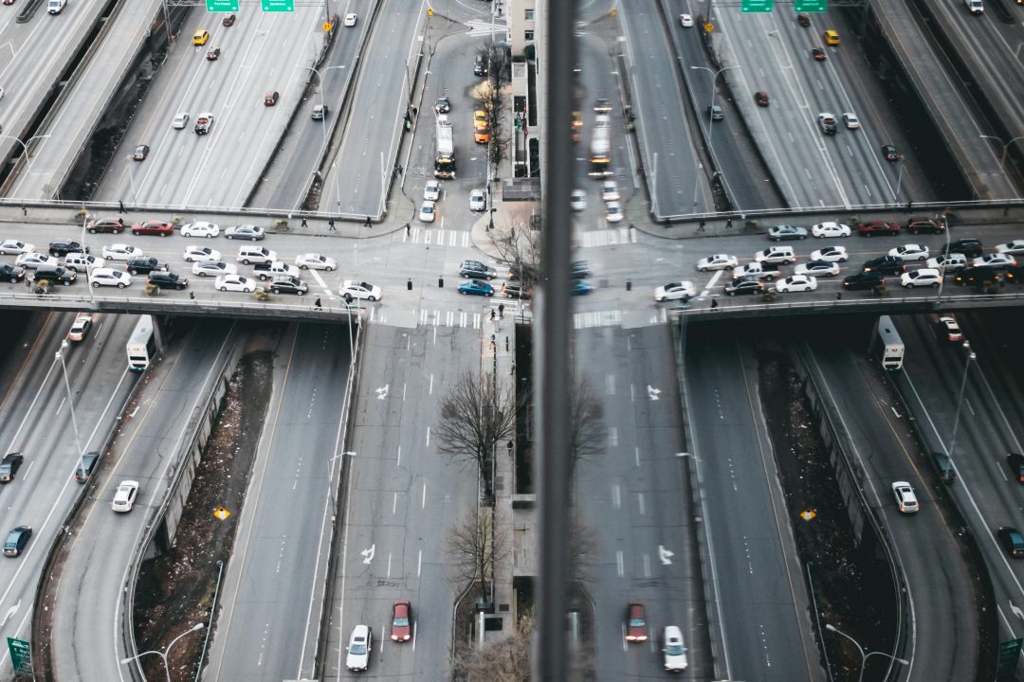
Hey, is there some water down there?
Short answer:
No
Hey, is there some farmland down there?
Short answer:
No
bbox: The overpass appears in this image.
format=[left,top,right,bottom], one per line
[0,196,388,352]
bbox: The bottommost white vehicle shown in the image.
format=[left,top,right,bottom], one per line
[345,624,374,668]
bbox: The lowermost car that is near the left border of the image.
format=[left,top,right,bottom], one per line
[2,526,33,559]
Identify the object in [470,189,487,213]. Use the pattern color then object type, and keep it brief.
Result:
white car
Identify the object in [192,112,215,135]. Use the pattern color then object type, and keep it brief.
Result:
white truck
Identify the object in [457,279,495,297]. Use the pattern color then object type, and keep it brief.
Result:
blue car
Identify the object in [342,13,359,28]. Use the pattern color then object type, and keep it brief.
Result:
white car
